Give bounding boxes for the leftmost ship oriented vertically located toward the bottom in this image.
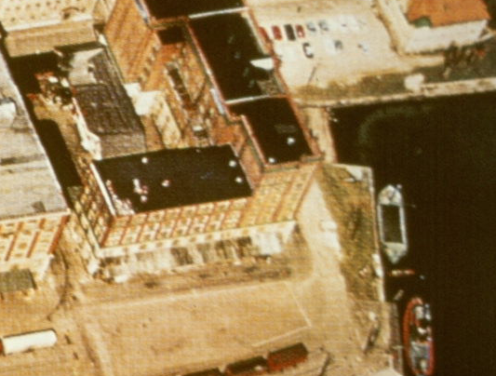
[375,184,407,269]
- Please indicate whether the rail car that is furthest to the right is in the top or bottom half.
bottom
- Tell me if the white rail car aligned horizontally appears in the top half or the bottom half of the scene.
bottom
